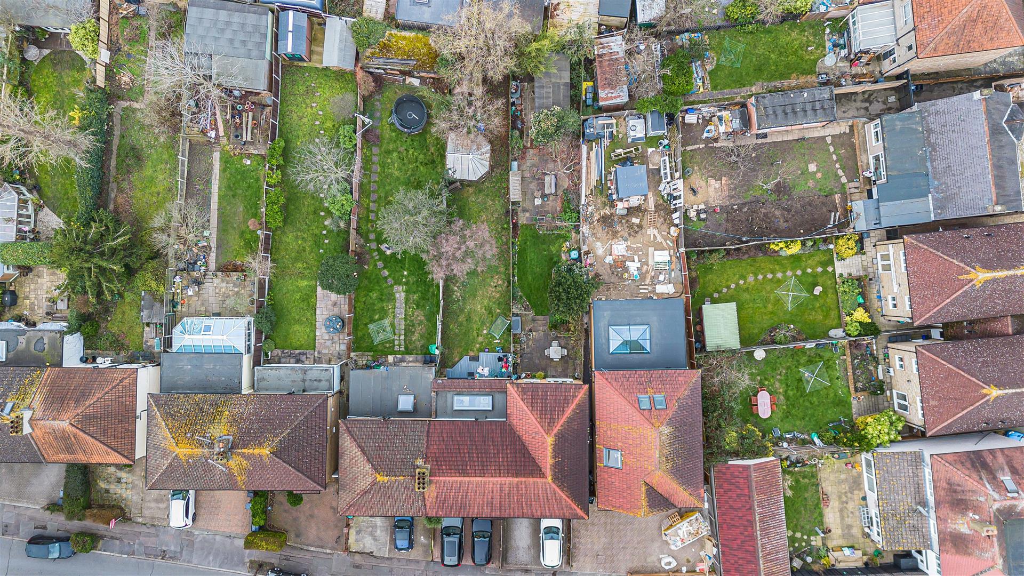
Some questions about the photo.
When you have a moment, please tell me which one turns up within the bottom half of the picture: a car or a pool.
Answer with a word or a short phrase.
car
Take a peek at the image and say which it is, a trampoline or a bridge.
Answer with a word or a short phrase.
trampoline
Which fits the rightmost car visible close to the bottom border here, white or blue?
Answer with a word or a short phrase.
white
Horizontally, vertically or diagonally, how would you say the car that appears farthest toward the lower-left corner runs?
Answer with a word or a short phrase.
horizontally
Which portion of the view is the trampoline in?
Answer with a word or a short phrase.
top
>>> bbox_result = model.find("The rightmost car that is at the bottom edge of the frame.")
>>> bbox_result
[540,518,565,570]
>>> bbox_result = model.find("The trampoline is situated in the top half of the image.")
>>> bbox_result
[384,88,428,131]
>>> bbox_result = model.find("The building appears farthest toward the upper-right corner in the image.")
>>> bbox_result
[881,0,1024,75]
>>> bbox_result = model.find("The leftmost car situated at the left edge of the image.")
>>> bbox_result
[17,537,71,565]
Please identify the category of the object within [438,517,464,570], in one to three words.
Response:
car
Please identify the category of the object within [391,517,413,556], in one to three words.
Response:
car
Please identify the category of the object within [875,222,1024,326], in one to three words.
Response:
house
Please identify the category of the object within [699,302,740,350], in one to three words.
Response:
shed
